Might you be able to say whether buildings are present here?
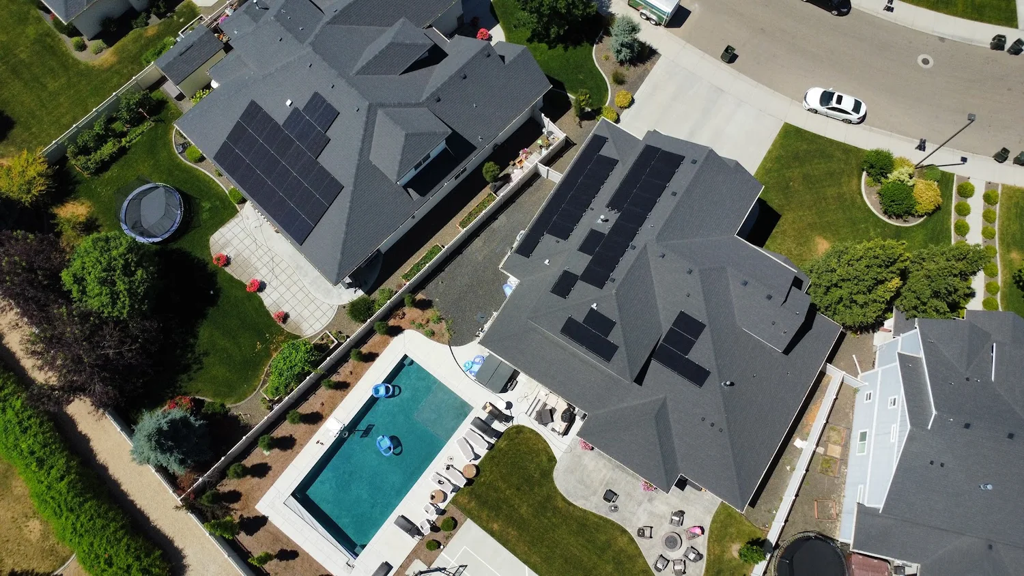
Yes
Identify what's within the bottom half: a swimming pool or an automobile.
swimming pool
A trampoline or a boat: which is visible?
trampoline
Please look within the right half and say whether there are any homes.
Yes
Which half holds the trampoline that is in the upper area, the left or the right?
left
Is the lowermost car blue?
No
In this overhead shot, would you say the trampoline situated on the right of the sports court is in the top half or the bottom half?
bottom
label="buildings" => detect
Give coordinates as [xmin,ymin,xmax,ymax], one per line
[46,0,153,41]
[175,0,551,289]
[838,305,1024,576]
[478,117,843,514]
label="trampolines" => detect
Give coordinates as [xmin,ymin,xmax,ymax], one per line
[108,176,187,244]
[764,525,859,576]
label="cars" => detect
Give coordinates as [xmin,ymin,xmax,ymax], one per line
[801,86,869,124]
[798,0,853,16]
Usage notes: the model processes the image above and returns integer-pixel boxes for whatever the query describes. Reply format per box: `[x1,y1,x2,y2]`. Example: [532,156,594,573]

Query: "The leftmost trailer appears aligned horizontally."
[621,0,678,26]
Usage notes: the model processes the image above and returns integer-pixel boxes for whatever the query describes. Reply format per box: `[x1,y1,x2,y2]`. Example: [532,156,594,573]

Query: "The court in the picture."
[426,519,543,576]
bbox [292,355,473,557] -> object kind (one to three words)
swimming pool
